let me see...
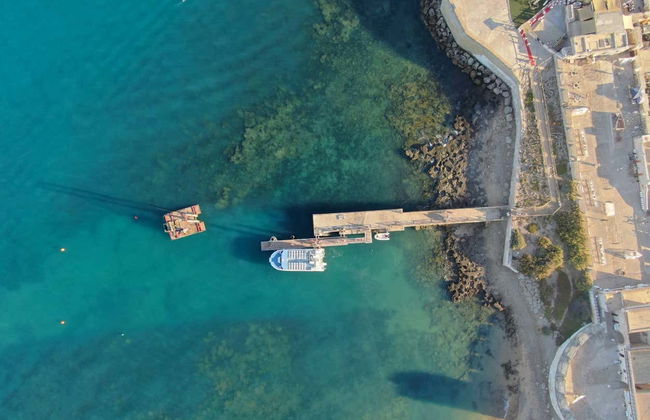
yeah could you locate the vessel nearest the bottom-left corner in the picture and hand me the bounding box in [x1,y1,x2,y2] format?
[161,204,207,240]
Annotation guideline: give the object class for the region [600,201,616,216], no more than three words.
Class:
umbrella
